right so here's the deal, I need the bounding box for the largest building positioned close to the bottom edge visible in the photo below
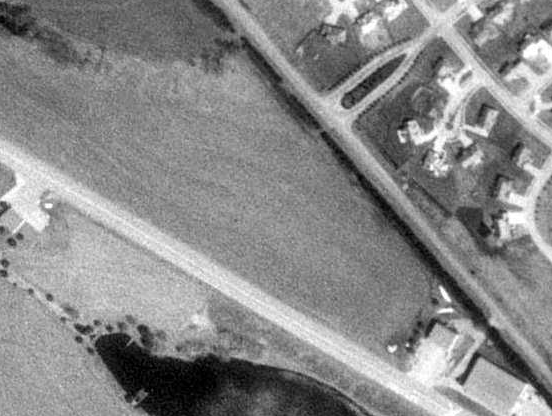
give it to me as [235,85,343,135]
[464,358,526,412]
